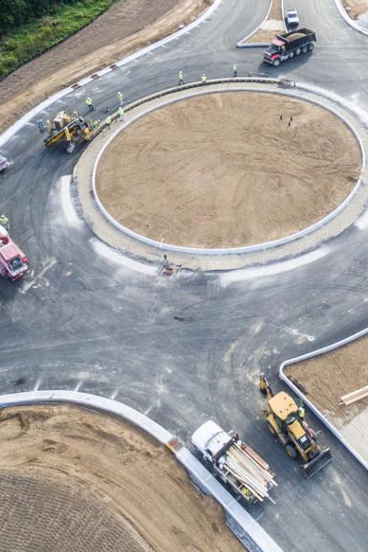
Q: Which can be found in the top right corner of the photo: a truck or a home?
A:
truck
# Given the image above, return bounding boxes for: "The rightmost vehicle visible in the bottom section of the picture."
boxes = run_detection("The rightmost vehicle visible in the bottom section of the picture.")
[258,374,335,479]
